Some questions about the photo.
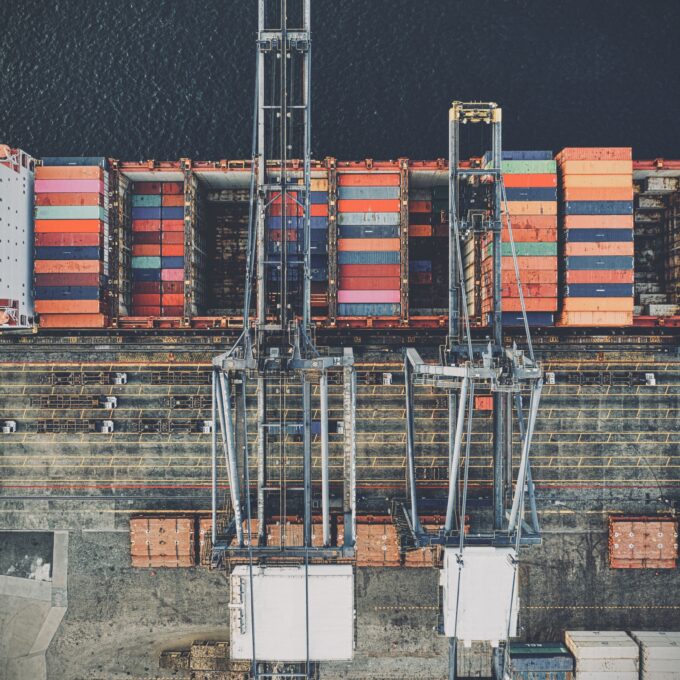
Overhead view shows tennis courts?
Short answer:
No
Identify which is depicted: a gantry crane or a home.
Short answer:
gantry crane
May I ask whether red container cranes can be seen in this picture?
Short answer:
No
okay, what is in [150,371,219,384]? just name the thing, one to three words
vehicle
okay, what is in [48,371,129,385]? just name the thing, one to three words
vehicle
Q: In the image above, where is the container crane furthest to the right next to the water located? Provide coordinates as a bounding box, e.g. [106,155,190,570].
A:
[386,96,545,680]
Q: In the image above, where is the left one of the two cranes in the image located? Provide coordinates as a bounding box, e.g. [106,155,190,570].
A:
[193,0,367,680]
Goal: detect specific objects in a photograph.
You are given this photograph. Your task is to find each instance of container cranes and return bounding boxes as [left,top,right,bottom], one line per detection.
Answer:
[386,96,545,680]
[193,0,367,680]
